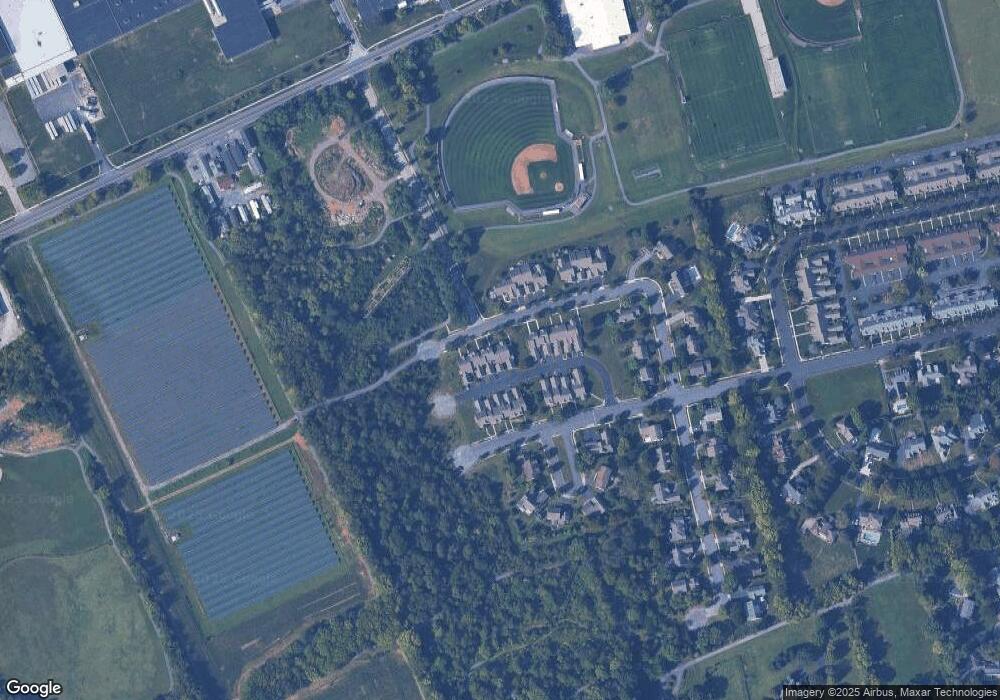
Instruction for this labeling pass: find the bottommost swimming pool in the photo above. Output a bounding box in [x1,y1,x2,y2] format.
[857,529,881,545]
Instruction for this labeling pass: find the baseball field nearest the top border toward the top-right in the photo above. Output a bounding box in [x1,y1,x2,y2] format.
[776,0,861,45]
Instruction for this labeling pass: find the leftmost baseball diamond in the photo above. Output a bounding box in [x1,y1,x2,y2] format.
[438,74,579,212]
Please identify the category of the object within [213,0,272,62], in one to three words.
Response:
building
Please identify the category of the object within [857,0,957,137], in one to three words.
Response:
soccer field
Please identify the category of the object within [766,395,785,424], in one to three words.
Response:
house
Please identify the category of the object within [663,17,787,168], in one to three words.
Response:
soccer field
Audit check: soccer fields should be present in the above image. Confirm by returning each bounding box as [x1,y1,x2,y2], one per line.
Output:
[857,0,957,137]
[800,47,880,152]
[663,17,787,168]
